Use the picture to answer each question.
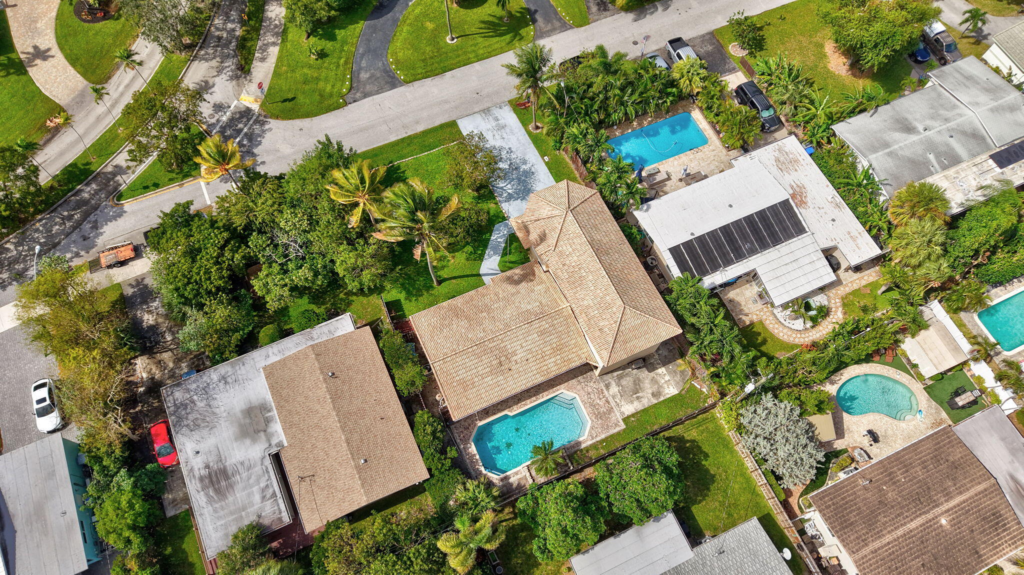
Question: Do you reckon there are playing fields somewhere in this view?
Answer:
No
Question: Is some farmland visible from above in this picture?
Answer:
No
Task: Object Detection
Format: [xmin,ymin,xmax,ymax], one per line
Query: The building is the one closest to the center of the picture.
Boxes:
[410,178,684,422]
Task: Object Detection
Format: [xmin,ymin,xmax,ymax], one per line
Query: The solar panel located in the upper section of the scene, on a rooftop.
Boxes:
[989,141,1024,169]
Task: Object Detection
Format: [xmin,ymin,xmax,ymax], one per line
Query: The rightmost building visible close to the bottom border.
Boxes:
[808,405,1024,575]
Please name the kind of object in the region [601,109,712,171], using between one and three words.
swimming pool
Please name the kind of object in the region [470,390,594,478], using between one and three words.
swimming pool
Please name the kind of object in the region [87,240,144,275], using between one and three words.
trailer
